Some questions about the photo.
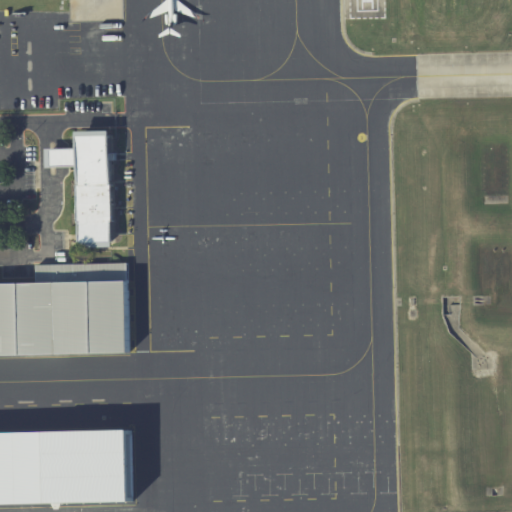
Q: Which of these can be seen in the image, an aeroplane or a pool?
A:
aeroplane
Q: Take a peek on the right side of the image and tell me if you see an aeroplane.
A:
No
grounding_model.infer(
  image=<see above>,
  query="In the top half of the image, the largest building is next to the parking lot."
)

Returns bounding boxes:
[43,130,118,250]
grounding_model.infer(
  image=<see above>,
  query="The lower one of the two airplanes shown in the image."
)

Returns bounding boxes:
[152,228,176,244]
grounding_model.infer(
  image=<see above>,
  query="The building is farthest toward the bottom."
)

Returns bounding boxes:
[0,429,134,510]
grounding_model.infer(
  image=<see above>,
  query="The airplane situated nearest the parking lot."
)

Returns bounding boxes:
[141,0,202,38]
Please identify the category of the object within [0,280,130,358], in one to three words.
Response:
hangar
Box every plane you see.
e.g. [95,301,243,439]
[152,228,176,244]
[141,0,202,38]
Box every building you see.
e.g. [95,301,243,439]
[43,130,118,250]
[0,280,130,358]
[0,429,134,510]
